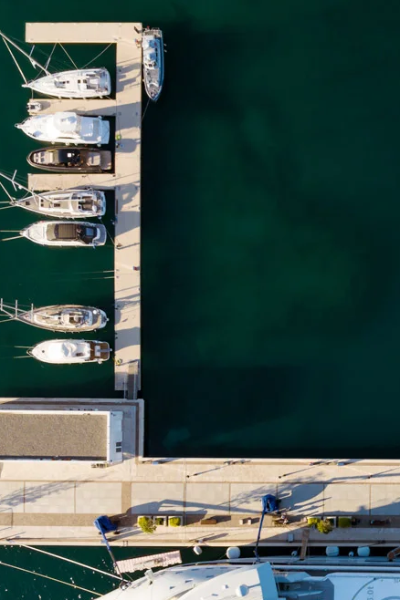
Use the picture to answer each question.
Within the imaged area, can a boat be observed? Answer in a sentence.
Yes, a boat is visible in the scene.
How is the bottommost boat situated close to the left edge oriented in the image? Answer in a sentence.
In this picture, the bottommost boat situated close to the left edge is oriented from side to side.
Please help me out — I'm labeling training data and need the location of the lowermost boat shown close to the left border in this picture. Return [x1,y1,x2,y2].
[17,338,113,366]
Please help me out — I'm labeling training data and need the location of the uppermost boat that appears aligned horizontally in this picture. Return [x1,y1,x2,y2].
[0,32,114,99]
